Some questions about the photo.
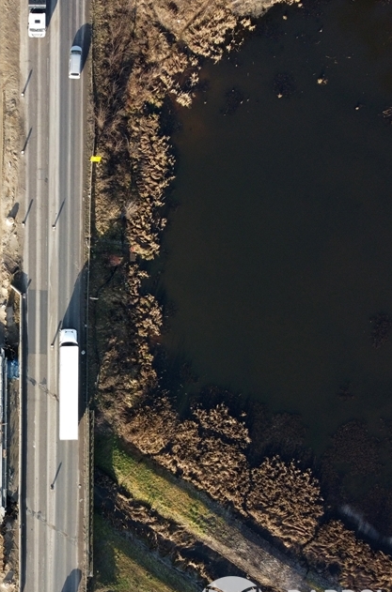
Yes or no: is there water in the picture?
Yes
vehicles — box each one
[26,0,47,36]
[59,327,78,446]
[69,46,83,79]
